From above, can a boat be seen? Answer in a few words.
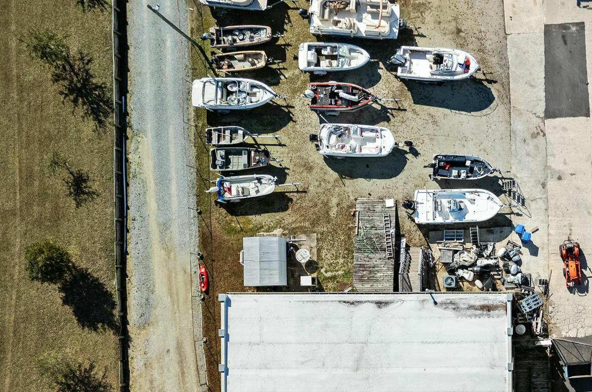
Yes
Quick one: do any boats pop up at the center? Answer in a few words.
Yes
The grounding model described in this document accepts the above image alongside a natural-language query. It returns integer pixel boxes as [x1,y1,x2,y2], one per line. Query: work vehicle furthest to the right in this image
[559,237,582,281]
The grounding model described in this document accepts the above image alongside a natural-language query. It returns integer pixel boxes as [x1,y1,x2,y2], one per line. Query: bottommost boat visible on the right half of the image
[398,187,503,225]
